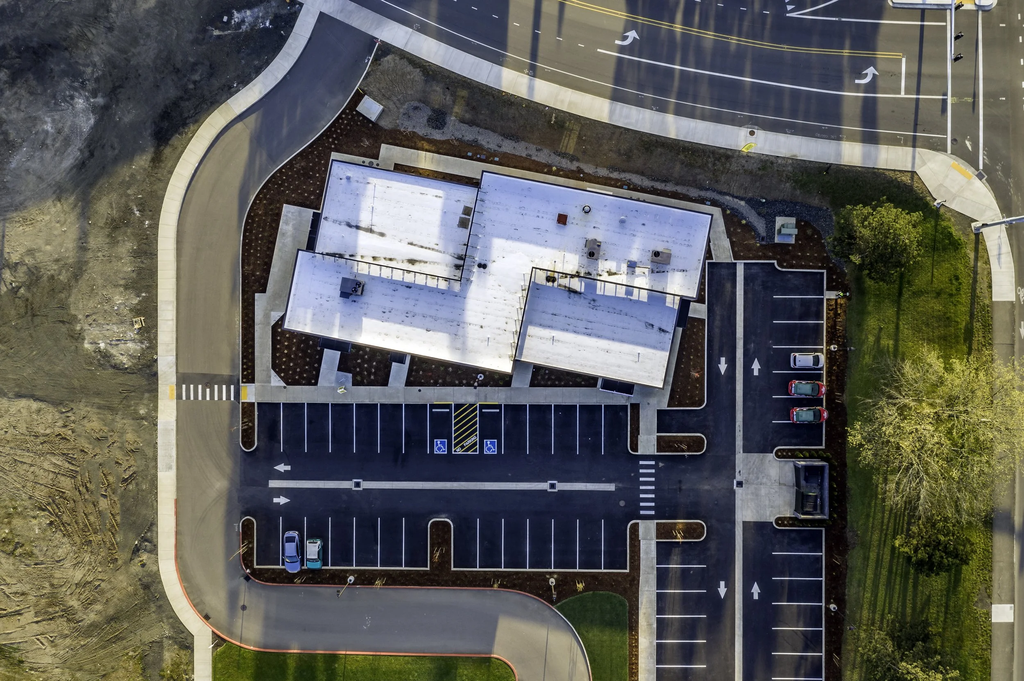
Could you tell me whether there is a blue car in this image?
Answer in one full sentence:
Yes, a blue car can be made out from above.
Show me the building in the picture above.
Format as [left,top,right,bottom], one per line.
[278,159,717,396]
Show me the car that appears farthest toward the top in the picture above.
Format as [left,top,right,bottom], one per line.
[788,351,822,370]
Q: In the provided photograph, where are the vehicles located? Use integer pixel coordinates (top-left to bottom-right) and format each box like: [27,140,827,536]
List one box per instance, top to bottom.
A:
[788,351,822,370]
[787,380,824,399]
[788,406,825,425]
[282,529,302,571]
[306,536,324,568]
